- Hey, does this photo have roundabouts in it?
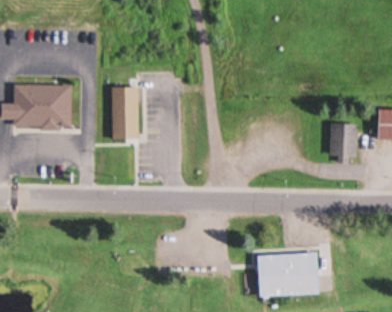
No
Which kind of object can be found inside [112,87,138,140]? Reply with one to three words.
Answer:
building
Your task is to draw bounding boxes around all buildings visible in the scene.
[0,85,72,129]
[112,87,138,140]
[330,123,357,168]
[246,252,320,304]
[378,110,392,141]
